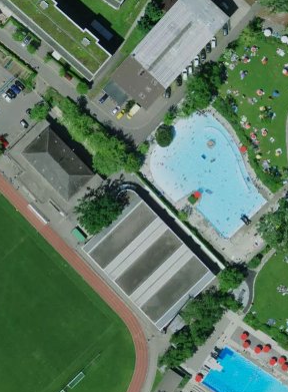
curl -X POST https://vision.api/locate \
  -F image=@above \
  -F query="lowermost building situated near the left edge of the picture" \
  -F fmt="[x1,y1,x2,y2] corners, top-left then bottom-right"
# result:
[9,119,104,214]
